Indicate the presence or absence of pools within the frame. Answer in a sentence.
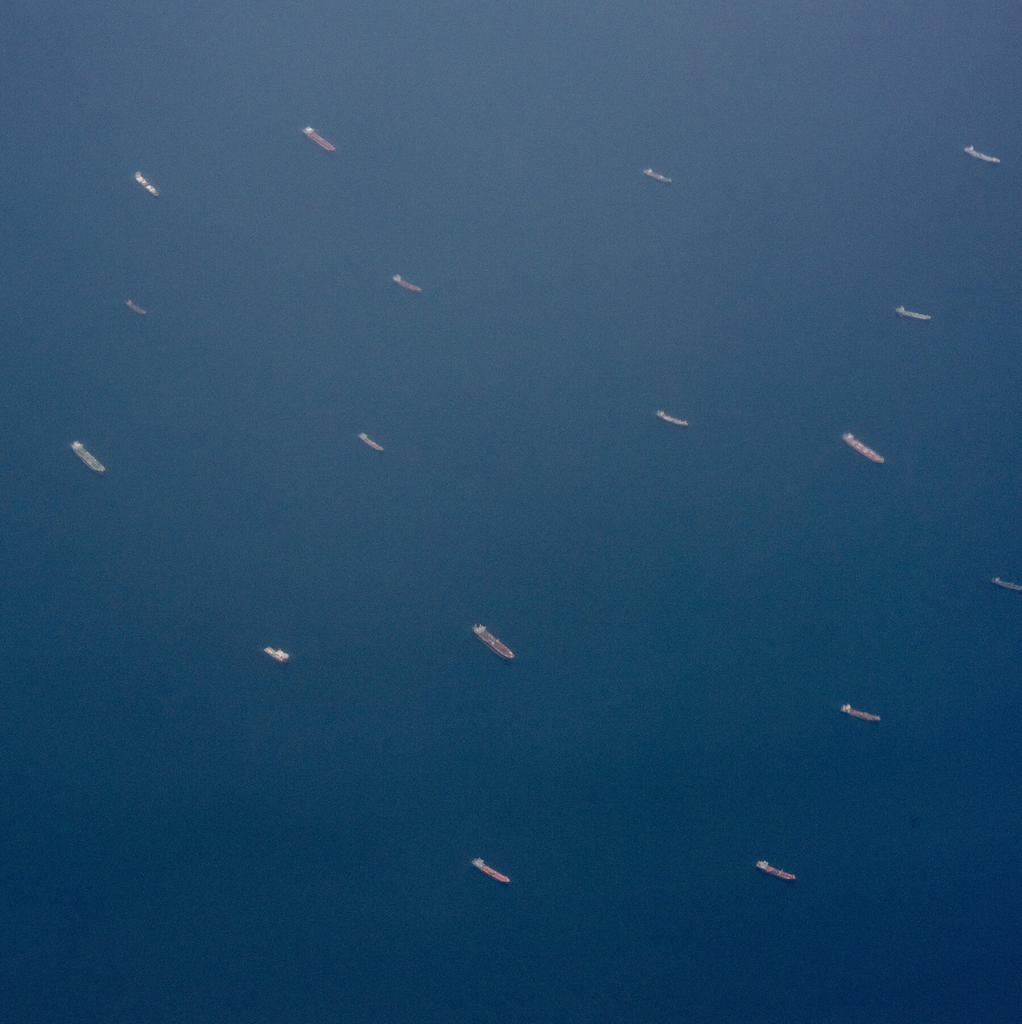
No, there appears to be no pool in this shot.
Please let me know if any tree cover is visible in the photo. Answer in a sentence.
No, tree cover can't be seen anywhere here.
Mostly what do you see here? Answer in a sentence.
For the most part, this view shows water.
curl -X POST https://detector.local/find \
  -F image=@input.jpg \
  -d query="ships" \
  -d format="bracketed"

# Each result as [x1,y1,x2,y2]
[991,577,1022,591]
[472,626,515,658]
[841,434,885,464]
[124,300,146,314]
[840,705,880,722]
[964,147,1000,164]
[357,433,383,451]
[70,442,106,472]
[302,127,336,152]
[895,307,931,320]
[134,173,159,197]
[642,169,672,183]
[264,649,289,660]
[470,858,510,882]
[656,412,688,426]
[392,275,421,292]
[756,861,795,880]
